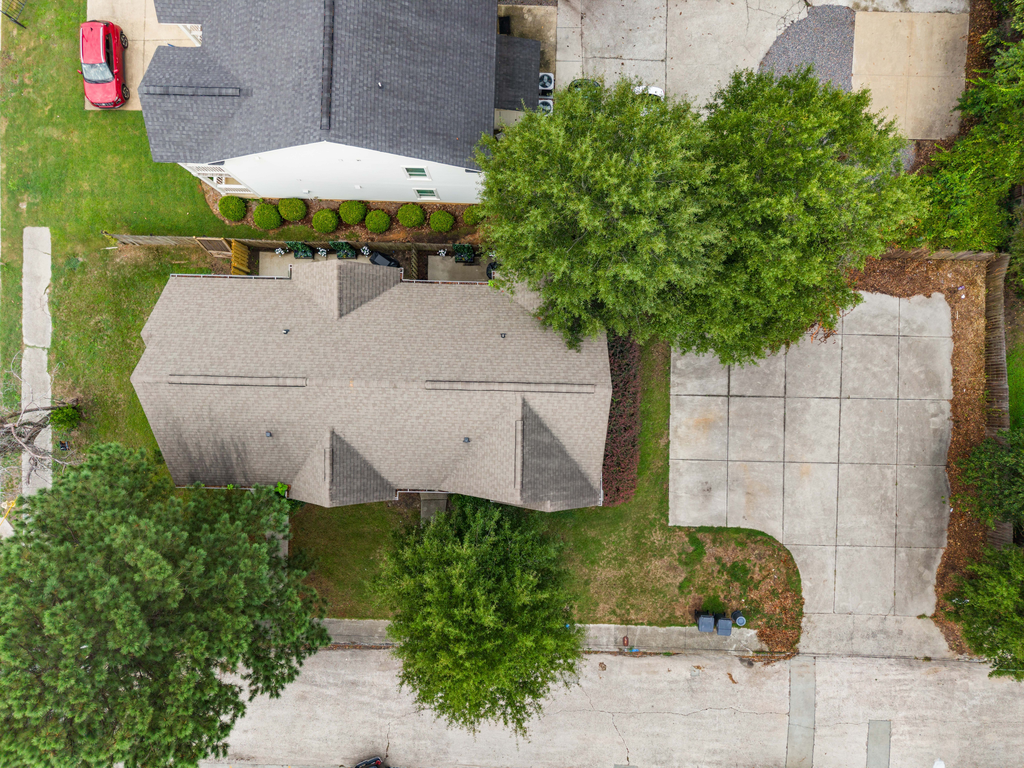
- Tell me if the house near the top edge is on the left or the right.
left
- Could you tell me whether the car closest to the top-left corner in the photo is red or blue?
red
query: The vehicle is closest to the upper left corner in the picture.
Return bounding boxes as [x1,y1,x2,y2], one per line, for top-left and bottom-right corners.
[76,20,130,110]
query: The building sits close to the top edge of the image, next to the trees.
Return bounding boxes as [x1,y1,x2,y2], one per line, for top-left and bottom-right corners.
[137,0,541,203]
